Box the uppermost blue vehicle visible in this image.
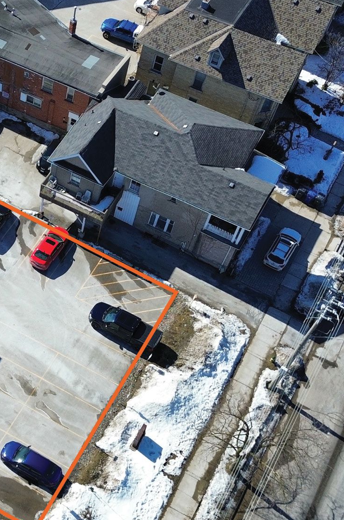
[102,20,142,50]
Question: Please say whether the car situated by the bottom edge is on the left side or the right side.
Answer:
left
